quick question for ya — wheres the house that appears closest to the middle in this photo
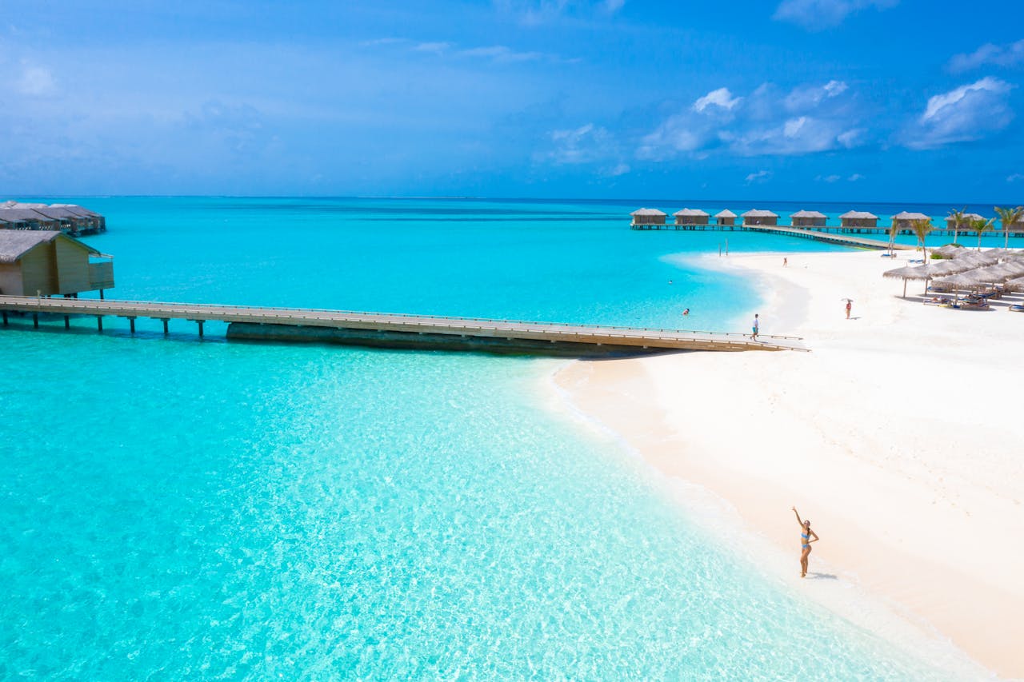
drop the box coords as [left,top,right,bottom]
[628,209,669,231]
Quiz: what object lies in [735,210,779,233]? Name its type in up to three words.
house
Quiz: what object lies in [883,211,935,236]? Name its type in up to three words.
house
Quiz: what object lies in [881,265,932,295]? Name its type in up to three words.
umbrella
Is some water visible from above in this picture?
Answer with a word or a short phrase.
Yes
